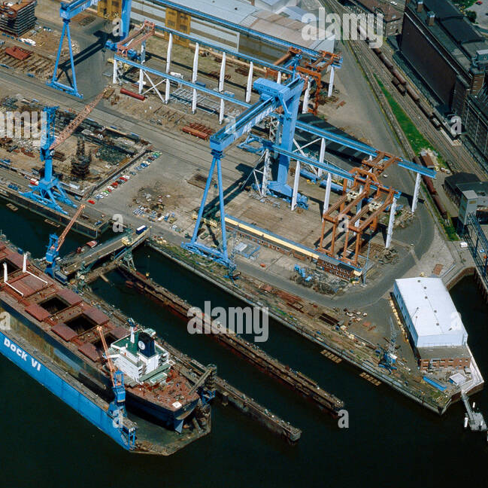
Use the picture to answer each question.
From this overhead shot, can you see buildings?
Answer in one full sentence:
Yes, there's a building here.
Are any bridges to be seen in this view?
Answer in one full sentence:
Yes, the photo shows a bridge.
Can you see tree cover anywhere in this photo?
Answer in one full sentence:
No, the scene doesn't show any tree cover.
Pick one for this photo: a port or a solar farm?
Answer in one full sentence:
This image shows a port.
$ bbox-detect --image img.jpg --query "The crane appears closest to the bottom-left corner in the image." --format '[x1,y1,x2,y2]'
[98,327,135,421]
